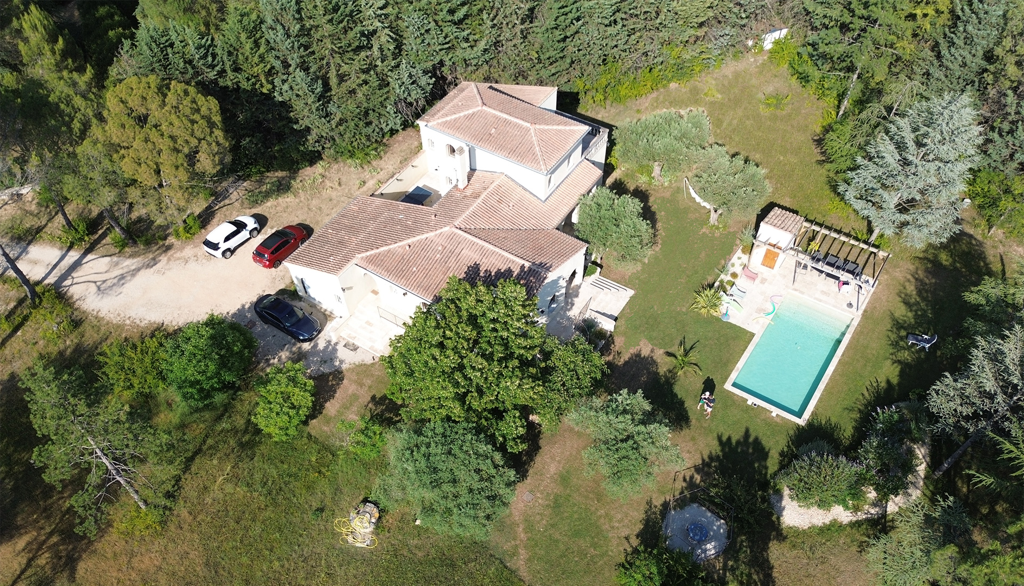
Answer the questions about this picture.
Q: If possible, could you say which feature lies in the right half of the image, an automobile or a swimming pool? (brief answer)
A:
swimming pool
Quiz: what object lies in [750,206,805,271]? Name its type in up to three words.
shed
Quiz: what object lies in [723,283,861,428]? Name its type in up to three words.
swimming pool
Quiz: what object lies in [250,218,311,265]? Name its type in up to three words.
car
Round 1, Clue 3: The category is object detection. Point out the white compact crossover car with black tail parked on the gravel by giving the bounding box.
[198,210,262,255]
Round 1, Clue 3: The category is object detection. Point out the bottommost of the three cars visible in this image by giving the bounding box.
[247,293,322,343]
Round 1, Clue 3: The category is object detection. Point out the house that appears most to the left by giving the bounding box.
[283,80,609,345]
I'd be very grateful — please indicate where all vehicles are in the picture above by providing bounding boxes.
[198,210,262,255]
[250,218,311,265]
[247,293,322,343]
